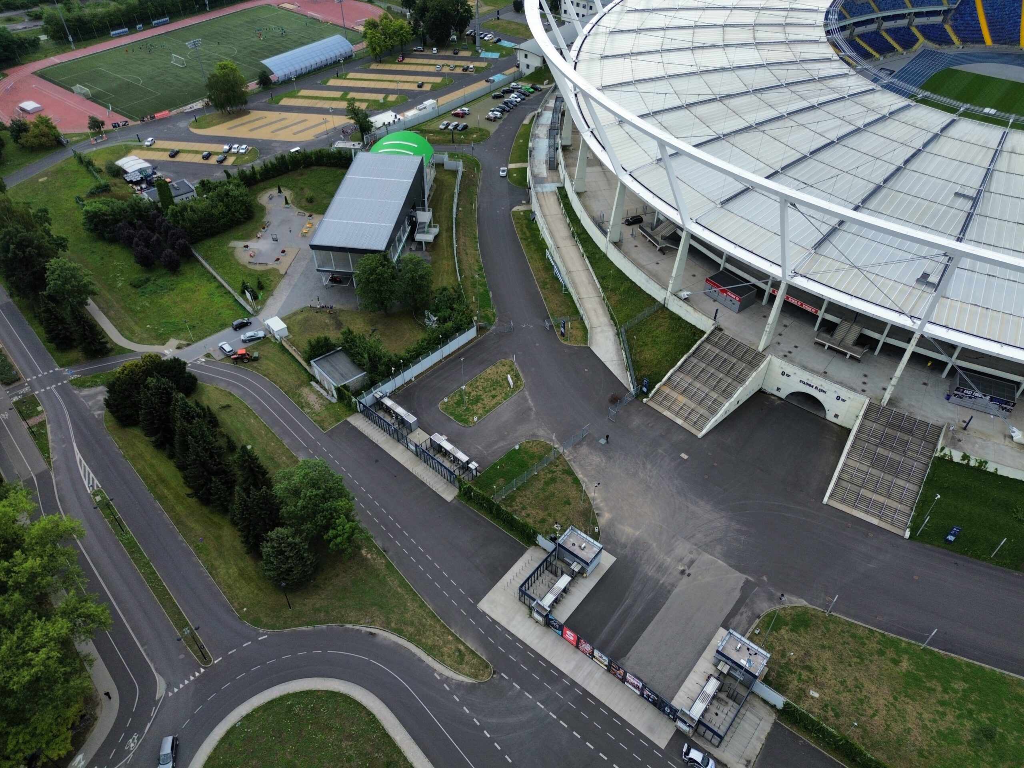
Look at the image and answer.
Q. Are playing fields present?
Yes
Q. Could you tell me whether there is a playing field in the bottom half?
No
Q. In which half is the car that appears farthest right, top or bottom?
bottom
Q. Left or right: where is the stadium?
right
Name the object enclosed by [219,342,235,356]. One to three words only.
car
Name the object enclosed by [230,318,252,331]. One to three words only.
vehicle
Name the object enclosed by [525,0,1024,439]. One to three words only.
stadium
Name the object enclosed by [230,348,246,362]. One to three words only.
work vehicle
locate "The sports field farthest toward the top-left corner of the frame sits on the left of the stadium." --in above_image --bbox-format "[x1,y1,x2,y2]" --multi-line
[32,2,357,122]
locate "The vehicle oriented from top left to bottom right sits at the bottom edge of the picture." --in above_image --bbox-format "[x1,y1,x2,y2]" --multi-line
[679,739,715,768]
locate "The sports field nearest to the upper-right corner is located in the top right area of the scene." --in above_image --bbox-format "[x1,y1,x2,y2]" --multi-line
[909,68,1024,131]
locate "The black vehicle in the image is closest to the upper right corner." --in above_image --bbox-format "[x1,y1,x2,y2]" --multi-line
[625,213,645,225]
